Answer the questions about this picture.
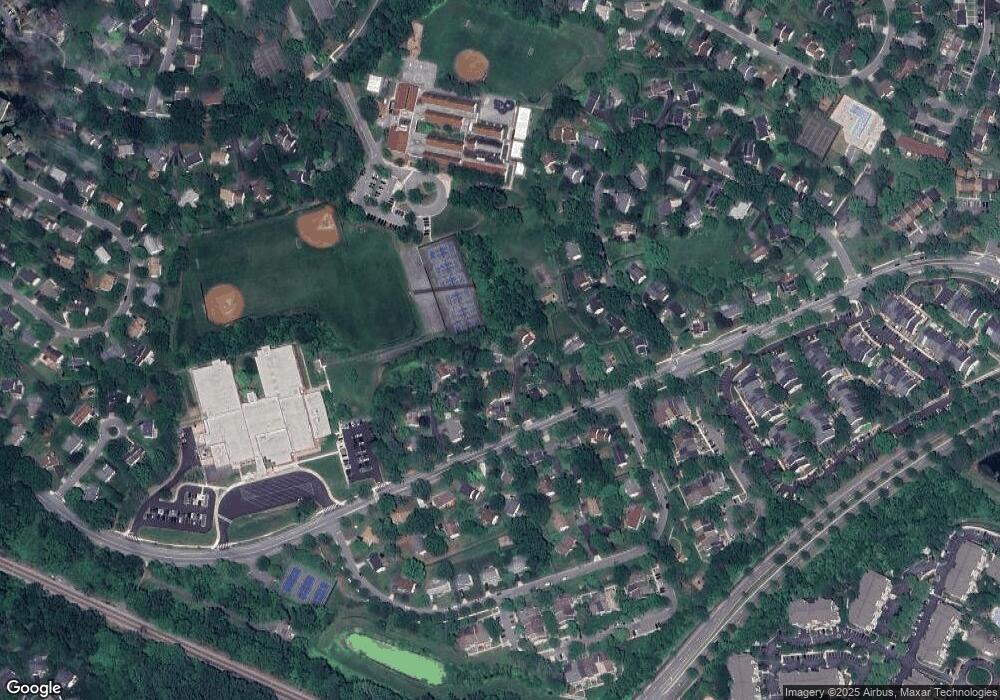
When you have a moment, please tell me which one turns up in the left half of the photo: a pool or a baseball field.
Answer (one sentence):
It is a baseball field that can be seen in the left half of the photo.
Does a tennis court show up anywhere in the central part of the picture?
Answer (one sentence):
Yes, a tennis court can be seen in the central part of the picture.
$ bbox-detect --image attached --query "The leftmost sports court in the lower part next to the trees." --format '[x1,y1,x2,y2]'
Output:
[280,563,339,606]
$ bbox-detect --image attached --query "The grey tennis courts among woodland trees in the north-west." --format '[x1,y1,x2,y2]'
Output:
[253,41,286,78]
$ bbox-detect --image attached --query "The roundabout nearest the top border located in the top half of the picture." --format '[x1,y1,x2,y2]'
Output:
[405,172,448,216]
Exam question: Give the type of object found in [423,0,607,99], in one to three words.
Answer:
sports field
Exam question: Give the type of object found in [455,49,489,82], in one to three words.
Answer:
baseball field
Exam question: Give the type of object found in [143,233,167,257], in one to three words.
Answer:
house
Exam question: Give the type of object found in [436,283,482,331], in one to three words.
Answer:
tennis court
